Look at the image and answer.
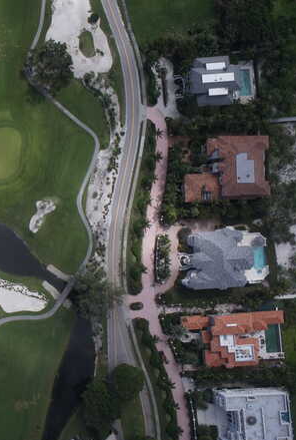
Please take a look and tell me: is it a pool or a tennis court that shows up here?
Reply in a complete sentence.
Looking from above, you can make out a pool.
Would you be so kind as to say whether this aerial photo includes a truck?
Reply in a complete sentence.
No, there's no truck here.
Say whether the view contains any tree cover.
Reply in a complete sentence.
Yes, the picture does contain tree cover.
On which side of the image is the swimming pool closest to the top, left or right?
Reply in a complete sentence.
The swimming pool closest to the top sits on the right side.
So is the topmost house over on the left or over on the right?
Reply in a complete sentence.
You can find the topmost house on the right side of the picture.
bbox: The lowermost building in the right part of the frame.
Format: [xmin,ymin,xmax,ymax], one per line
[205,384,292,440]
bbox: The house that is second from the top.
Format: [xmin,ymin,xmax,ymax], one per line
[182,136,272,202]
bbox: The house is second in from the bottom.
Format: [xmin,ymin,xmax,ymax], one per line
[181,311,285,369]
